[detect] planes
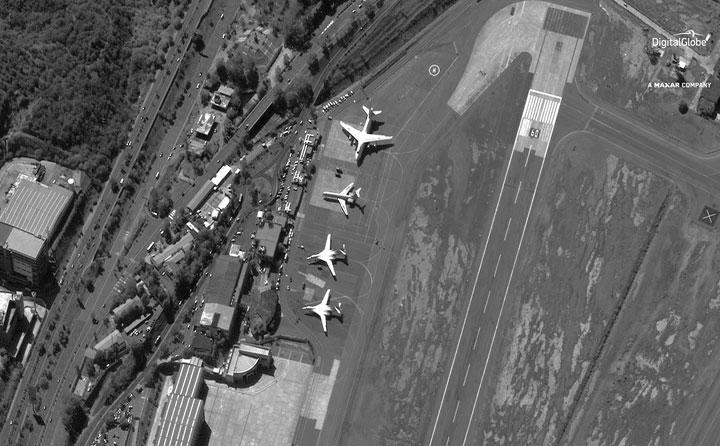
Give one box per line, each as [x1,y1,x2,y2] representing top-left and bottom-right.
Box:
[307,234,346,276]
[323,182,361,215]
[341,105,393,162]
[302,289,341,331]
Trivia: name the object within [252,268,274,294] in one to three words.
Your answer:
building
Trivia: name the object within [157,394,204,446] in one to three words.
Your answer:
hangar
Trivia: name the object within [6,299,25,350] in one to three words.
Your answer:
building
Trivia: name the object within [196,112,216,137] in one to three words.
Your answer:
house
